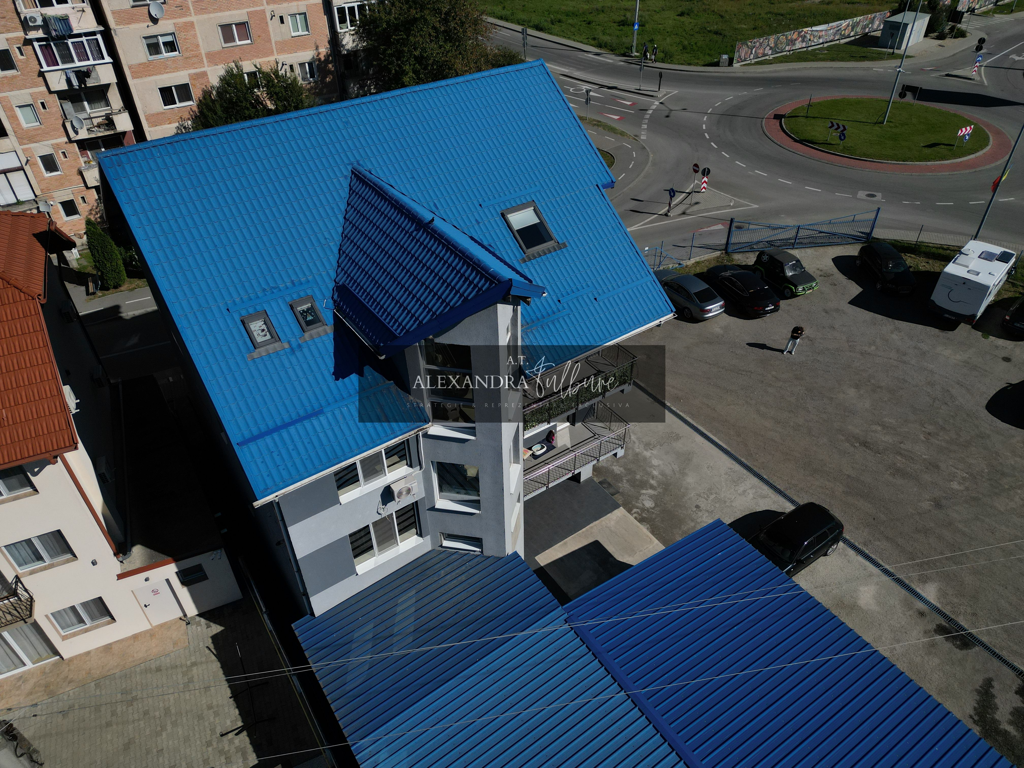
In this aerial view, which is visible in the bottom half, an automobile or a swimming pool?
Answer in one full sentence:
The feature located in the bottom half is an automobile.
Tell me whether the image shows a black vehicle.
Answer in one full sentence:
Yes, the image includes a black vehicle.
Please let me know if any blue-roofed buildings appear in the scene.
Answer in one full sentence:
Yes, the frame does contain a blue-roofed building.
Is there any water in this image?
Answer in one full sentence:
No, there is no water in the image.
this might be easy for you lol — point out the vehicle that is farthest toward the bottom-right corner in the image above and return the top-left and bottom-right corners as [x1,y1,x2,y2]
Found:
[750,498,854,580]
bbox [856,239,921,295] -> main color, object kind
black car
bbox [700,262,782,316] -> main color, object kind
black car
